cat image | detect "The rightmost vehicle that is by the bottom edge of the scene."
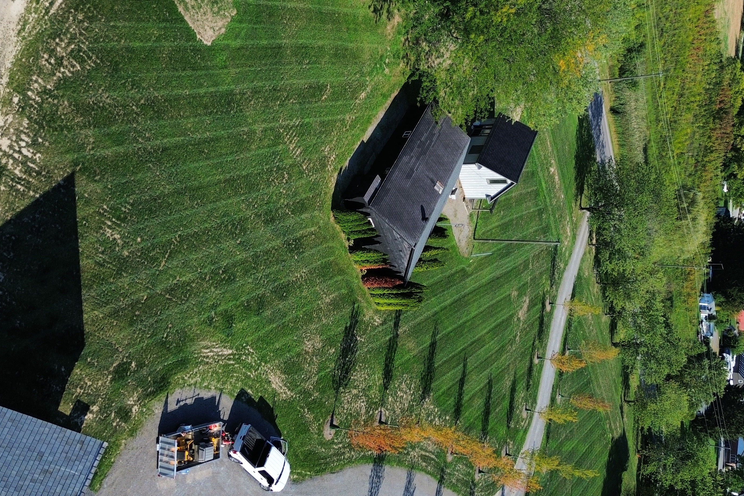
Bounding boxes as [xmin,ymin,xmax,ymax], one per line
[228,424,294,496]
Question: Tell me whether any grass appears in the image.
Yes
